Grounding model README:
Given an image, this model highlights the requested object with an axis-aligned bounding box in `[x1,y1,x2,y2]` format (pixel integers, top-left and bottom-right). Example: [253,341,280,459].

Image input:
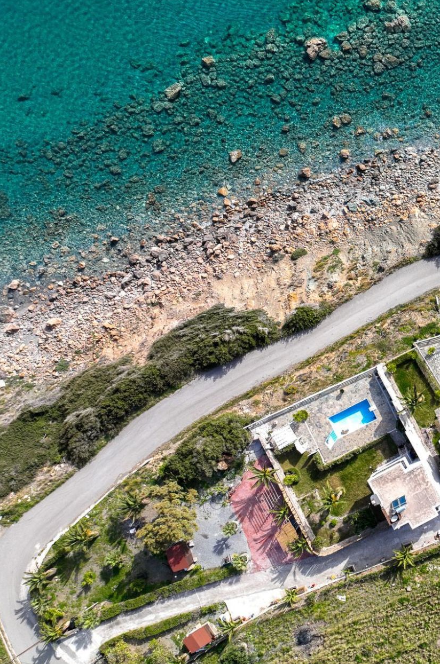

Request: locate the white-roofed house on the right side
[368,455,440,531]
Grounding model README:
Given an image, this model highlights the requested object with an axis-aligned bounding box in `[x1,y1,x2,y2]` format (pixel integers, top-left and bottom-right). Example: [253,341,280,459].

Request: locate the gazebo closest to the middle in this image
[270,422,301,449]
